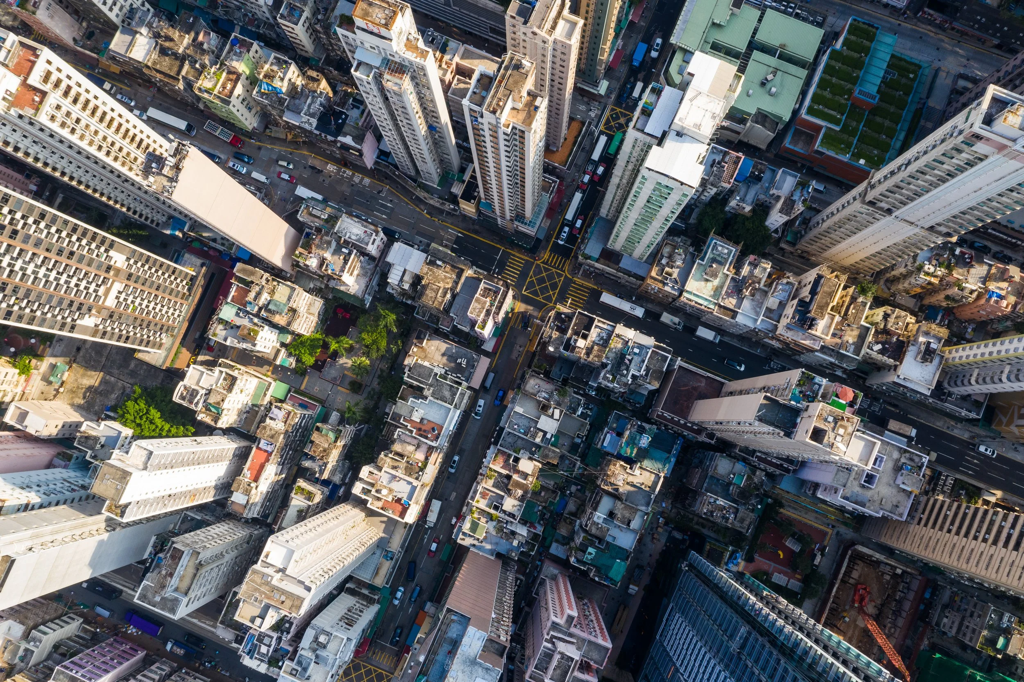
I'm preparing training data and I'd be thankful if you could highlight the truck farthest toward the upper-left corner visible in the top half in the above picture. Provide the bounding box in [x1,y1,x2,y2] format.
[87,71,119,94]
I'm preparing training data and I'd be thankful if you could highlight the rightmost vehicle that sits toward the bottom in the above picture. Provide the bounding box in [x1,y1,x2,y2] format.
[972,445,995,459]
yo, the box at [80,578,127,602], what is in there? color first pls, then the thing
black bus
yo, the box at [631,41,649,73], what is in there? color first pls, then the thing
blue vehicle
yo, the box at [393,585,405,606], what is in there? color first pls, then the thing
blue vehicle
